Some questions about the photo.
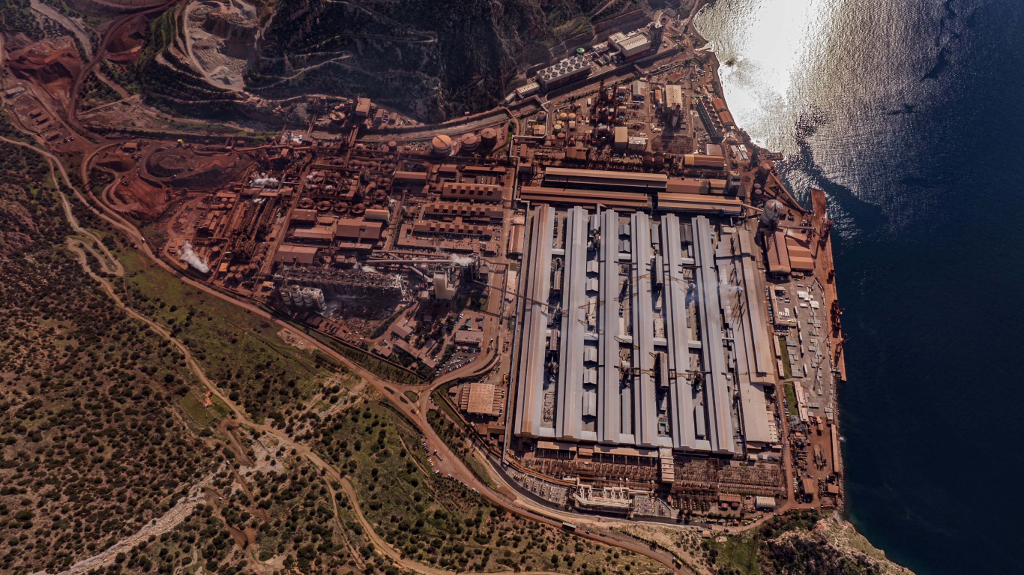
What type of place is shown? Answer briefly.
port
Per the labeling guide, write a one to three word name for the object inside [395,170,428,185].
shed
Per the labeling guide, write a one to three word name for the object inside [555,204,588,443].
building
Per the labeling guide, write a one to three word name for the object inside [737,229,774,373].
house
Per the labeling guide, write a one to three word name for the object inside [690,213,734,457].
building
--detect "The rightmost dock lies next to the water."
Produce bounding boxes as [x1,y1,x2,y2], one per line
[810,190,847,382]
